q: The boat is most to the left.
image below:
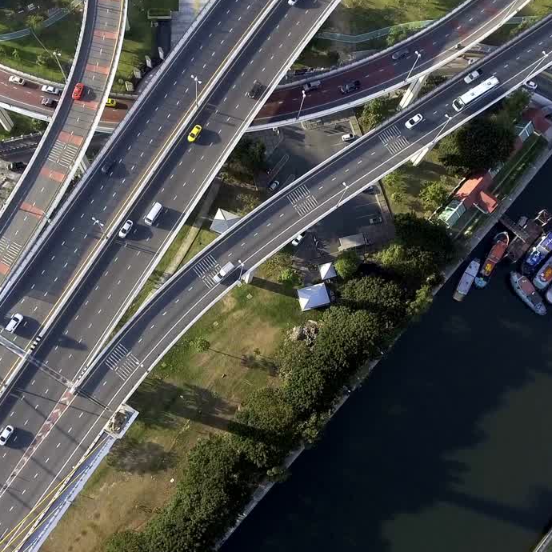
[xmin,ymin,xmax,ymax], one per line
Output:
[453,256,480,302]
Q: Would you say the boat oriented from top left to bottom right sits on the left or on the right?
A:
right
